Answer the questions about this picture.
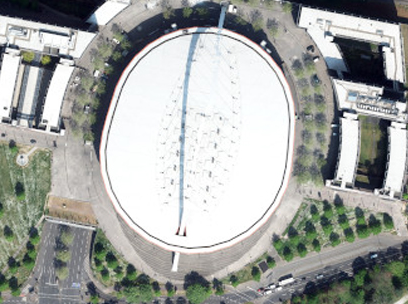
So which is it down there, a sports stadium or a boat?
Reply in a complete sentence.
The image shows a sports stadium.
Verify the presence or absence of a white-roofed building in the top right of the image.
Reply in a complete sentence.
Yes, a white-roofed building can be seen in the top right of the image.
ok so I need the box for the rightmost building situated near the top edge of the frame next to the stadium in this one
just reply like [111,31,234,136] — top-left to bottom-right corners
[296,7,408,83]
